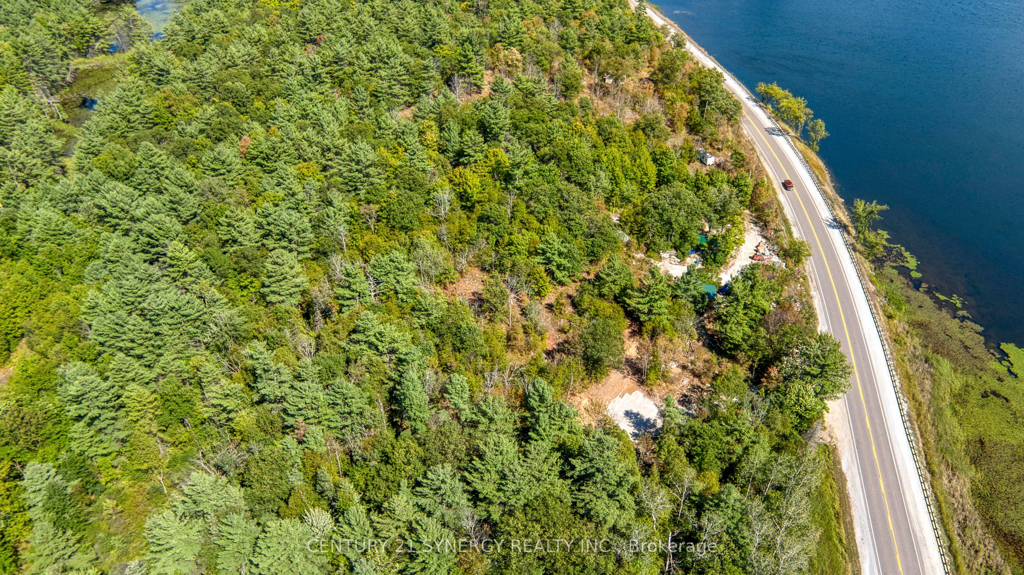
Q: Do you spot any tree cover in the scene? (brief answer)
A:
Yes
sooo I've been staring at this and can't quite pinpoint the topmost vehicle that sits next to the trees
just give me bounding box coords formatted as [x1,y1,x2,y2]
[700,150,717,164]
